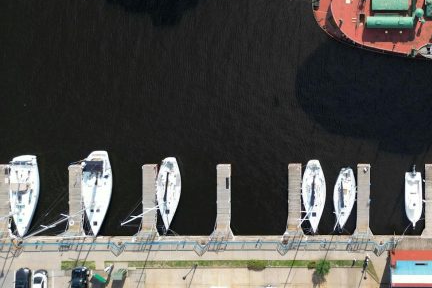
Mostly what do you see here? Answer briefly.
water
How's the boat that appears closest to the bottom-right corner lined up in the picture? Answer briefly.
vertically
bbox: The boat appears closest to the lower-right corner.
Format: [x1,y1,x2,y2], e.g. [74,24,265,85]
[404,168,424,232]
